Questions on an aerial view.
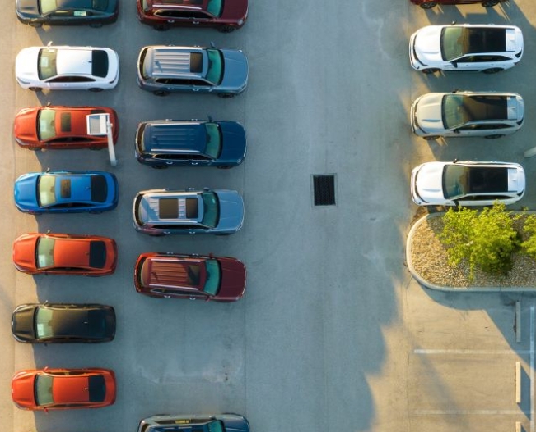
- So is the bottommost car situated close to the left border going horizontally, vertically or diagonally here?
horizontally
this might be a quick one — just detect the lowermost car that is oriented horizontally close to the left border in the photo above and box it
[11,366,117,413]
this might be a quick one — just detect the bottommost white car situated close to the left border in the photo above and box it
[15,42,120,94]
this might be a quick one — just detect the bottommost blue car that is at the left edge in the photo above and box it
[13,167,118,215]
